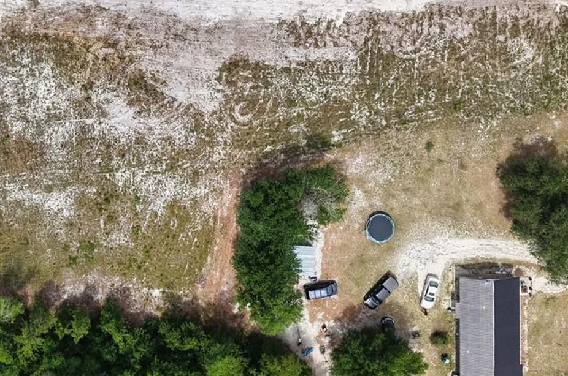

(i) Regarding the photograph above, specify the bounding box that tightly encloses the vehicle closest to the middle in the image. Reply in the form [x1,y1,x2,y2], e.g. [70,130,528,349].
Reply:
[305,278,338,299]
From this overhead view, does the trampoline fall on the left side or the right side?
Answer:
right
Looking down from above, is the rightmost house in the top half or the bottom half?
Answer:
bottom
